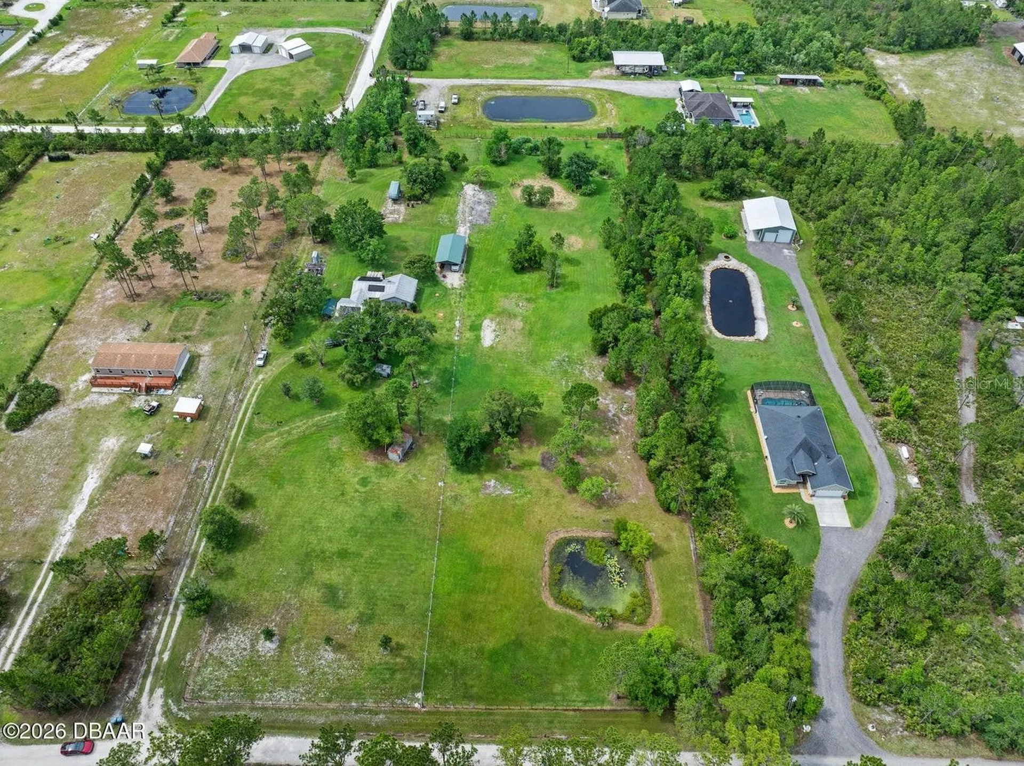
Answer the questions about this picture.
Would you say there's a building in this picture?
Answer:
Yes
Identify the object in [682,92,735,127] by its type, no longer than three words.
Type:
house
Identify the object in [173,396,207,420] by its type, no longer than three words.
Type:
shed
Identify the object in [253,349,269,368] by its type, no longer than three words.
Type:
vehicle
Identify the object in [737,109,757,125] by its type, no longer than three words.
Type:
swimming pool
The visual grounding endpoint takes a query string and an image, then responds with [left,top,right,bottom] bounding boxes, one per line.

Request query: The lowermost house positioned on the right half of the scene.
[754,406,853,498]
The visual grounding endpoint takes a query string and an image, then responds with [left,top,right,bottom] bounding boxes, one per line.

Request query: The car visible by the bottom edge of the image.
[58,743,93,760]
